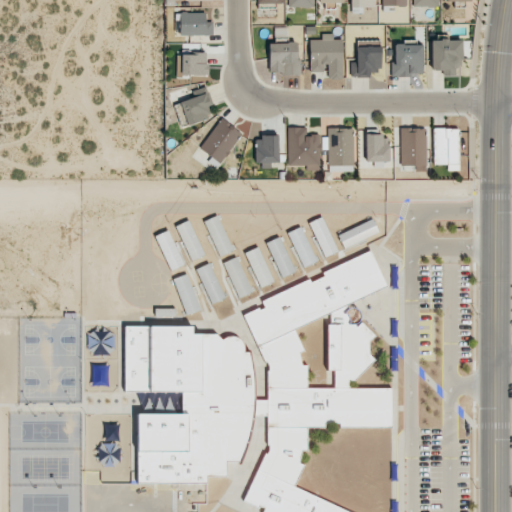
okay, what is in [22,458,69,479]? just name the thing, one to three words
sports court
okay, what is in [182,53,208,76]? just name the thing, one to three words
house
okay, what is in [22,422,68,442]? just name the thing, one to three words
sports court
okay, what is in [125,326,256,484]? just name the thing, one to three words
building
